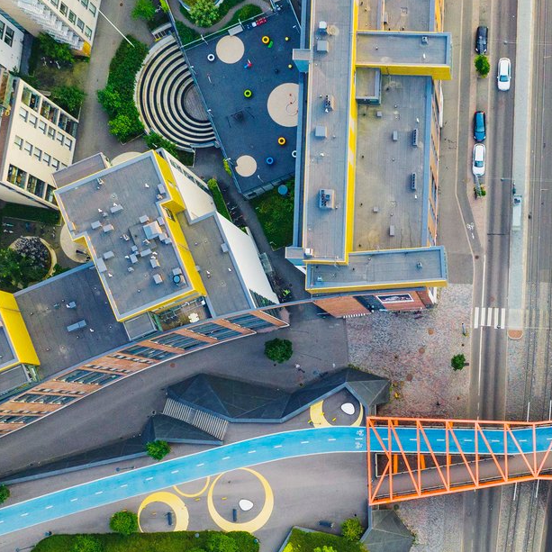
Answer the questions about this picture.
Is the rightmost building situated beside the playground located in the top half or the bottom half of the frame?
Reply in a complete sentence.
The rightmost building situated beside the playground is in the top half of the image.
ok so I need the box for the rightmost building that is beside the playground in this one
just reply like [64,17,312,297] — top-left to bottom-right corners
[285,0,453,319]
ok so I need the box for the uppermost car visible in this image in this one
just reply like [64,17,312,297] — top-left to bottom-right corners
[474,24,490,59]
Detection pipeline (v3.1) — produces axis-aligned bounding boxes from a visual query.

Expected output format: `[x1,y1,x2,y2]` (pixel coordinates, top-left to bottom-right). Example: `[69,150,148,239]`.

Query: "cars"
[470,142,487,178]
[471,109,487,143]
[496,56,513,92]
[474,24,490,59]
